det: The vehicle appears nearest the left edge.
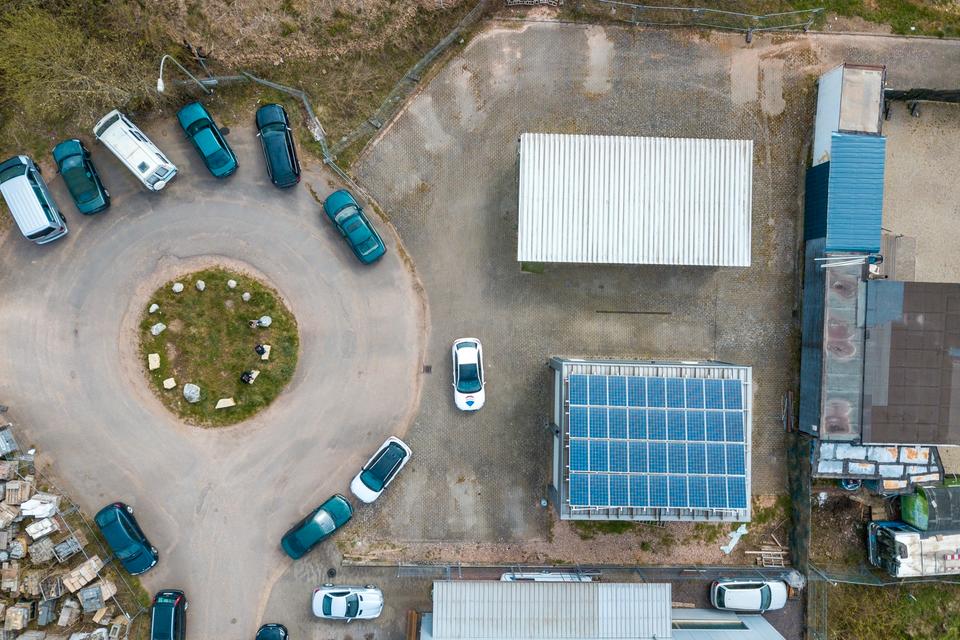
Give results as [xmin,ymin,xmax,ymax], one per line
[0,157,65,244]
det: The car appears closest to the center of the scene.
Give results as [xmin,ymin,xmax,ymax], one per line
[450,337,488,411]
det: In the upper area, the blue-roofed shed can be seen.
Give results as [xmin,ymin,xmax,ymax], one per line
[801,134,887,255]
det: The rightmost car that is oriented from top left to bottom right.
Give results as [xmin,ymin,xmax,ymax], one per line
[328,193,385,262]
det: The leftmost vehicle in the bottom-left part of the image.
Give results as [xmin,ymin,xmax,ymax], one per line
[98,502,158,574]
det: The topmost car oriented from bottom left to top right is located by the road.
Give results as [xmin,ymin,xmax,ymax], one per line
[354,437,411,501]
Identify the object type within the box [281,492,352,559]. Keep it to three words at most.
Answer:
car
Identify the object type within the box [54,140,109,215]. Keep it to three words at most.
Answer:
car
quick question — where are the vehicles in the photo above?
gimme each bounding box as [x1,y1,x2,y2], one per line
[94,111,179,193]
[255,105,302,188]
[311,586,384,626]
[450,337,488,411]
[54,140,109,215]
[281,492,352,559]
[860,519,960,579]
[354,437,411,501]
[328,193,385,262]
[181,105,239,177]
[98,502,158,574]
[257,622,290,640]
[710,576,787,616]
[0,157,65,244]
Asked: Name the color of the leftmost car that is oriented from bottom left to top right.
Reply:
blue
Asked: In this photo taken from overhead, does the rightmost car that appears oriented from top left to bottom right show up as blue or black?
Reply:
blue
